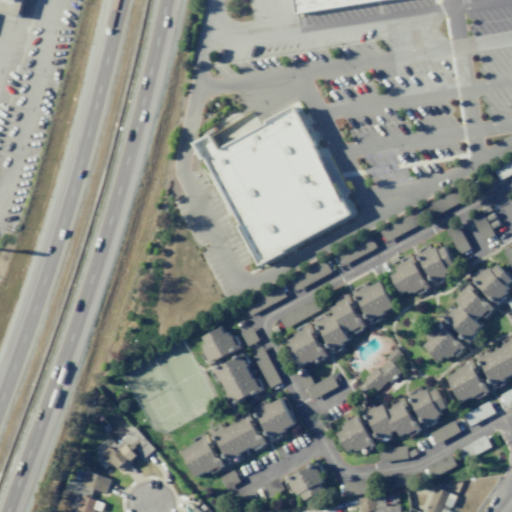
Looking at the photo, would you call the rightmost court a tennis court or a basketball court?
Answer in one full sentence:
The rightmost court can be classified as a basketball court.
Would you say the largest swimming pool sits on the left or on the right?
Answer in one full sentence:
The largest swimming pool is on the right side of the image.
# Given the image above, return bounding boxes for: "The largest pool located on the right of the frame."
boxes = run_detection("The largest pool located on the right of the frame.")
[360,338,382,362]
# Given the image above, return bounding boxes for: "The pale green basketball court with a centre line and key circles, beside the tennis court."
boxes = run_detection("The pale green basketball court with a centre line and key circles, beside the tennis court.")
[161,347,217,422]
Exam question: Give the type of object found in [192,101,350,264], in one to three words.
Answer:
building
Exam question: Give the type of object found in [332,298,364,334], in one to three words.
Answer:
house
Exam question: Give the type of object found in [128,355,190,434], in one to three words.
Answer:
tennis court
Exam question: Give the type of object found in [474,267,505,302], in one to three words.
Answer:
house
